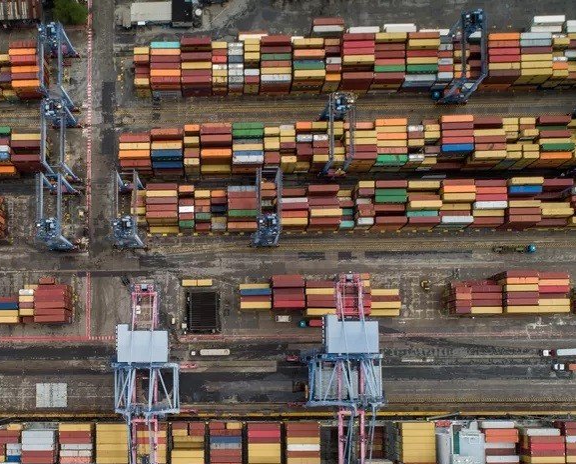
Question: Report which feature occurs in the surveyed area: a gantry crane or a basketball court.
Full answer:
Looking from above, you can make out a gantry crane.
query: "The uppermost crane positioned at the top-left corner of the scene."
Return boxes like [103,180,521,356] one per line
[37,18,75,108]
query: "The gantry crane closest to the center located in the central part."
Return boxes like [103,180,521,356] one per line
[251,168,285,248]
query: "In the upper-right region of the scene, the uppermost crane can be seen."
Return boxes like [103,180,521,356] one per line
[442,7,488,101]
